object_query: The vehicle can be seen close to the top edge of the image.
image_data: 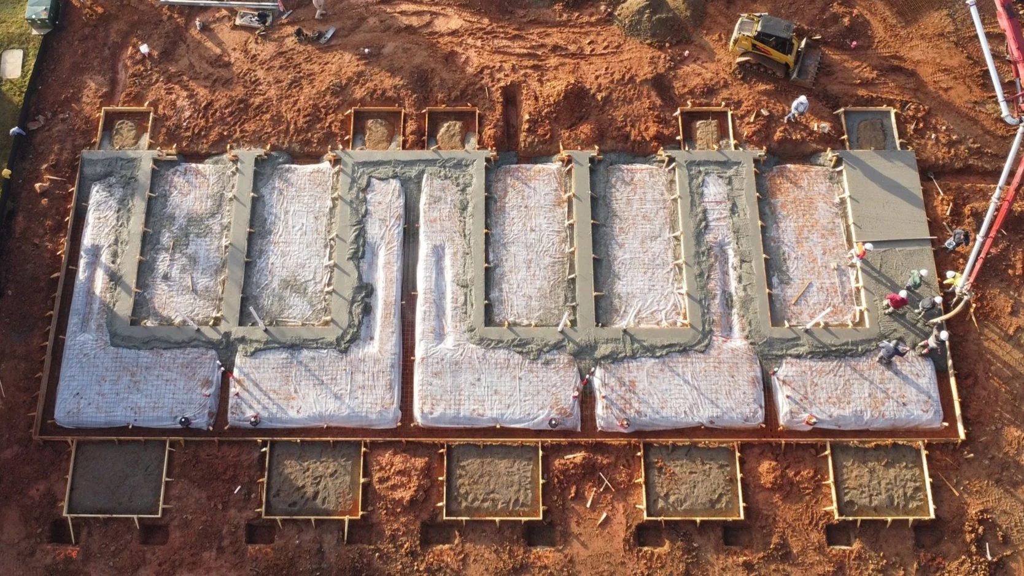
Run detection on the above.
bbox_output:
[731,12,824,92]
